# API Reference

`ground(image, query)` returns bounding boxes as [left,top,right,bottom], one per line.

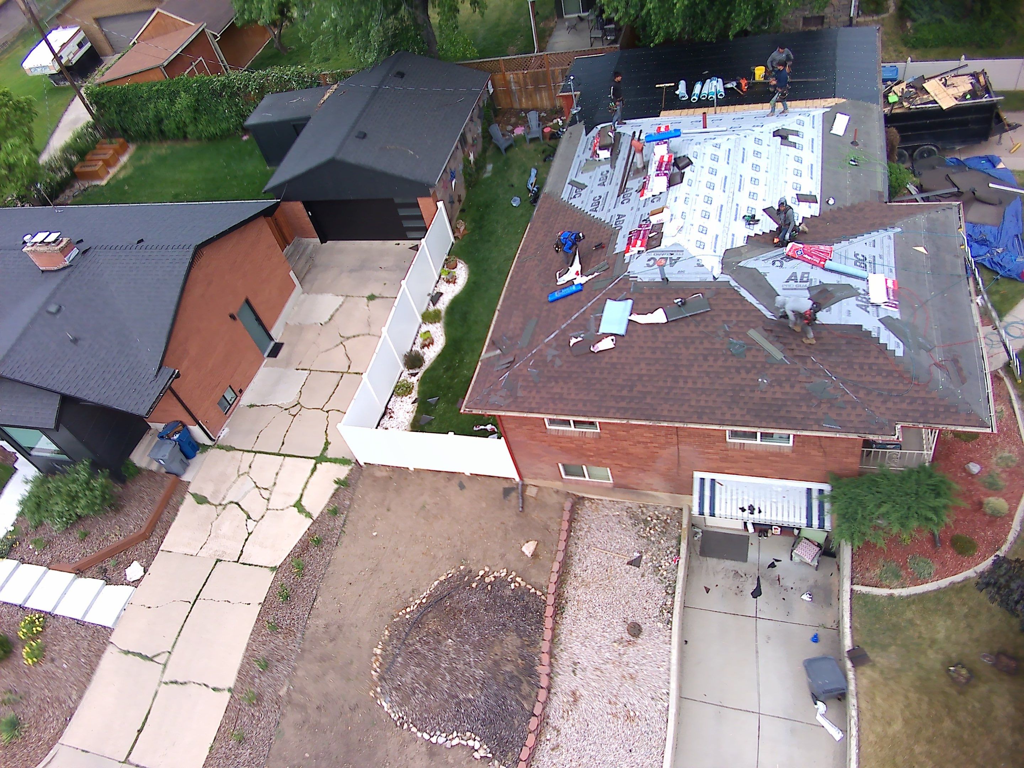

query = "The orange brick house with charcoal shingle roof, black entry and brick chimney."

[0,167,308,491]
